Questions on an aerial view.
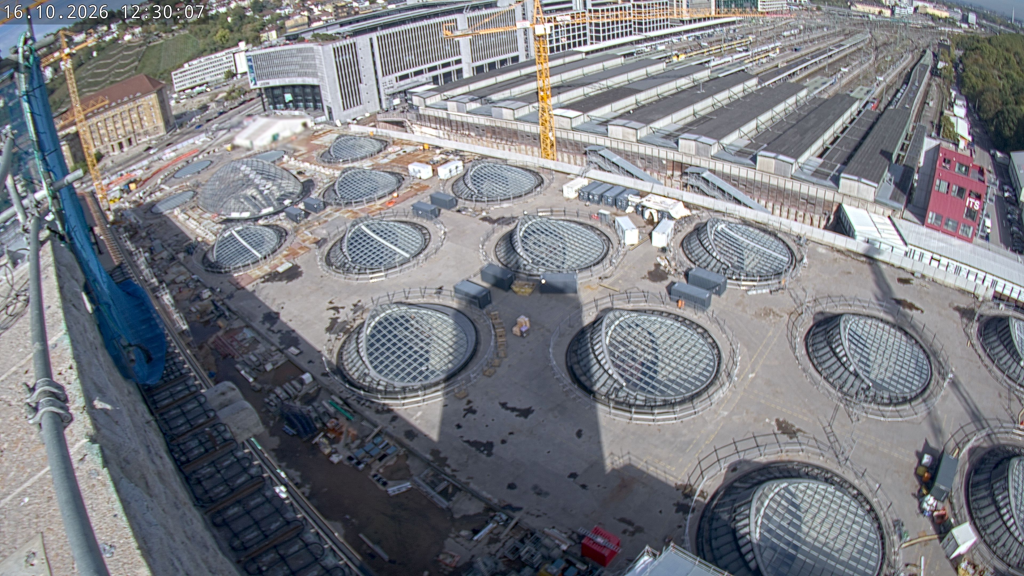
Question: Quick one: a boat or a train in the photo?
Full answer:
It is a train that can be seen here.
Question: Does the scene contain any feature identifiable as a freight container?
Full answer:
Yes, I can see a freight container in this picture.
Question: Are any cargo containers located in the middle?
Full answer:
Yes, a cargo container shows up in the middle.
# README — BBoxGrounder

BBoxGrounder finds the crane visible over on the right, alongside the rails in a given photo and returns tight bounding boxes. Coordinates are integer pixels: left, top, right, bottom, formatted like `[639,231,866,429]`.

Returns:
[451,0,794,160]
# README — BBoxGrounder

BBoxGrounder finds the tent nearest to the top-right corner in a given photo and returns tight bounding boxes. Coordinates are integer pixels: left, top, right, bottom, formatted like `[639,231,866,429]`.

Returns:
[635,194,689,224]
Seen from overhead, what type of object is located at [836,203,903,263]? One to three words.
building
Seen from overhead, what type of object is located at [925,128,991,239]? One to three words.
building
